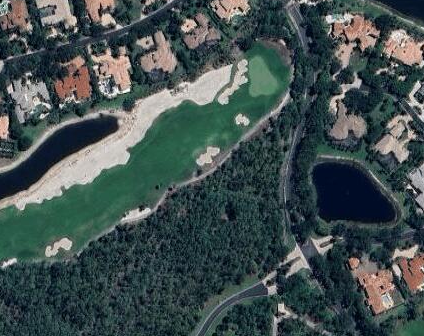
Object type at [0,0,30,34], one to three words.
house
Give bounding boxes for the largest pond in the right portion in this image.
[314,160,397,223]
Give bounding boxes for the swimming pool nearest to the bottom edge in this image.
[380,292,395,309]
